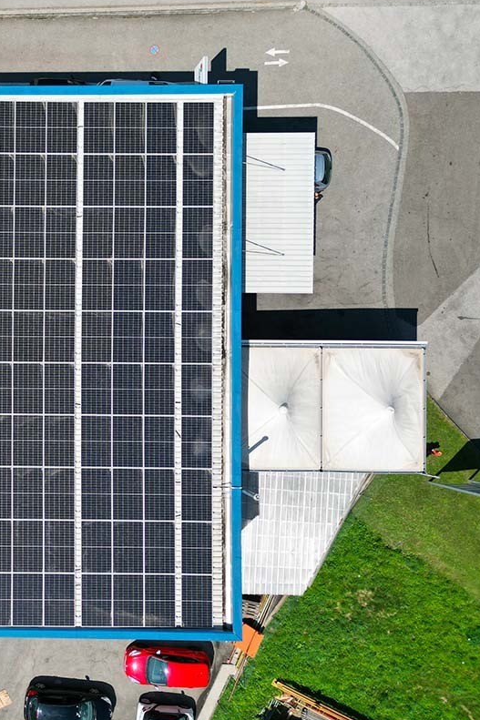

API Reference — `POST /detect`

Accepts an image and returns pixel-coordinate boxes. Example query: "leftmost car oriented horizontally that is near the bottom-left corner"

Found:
[25,683,114,720]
